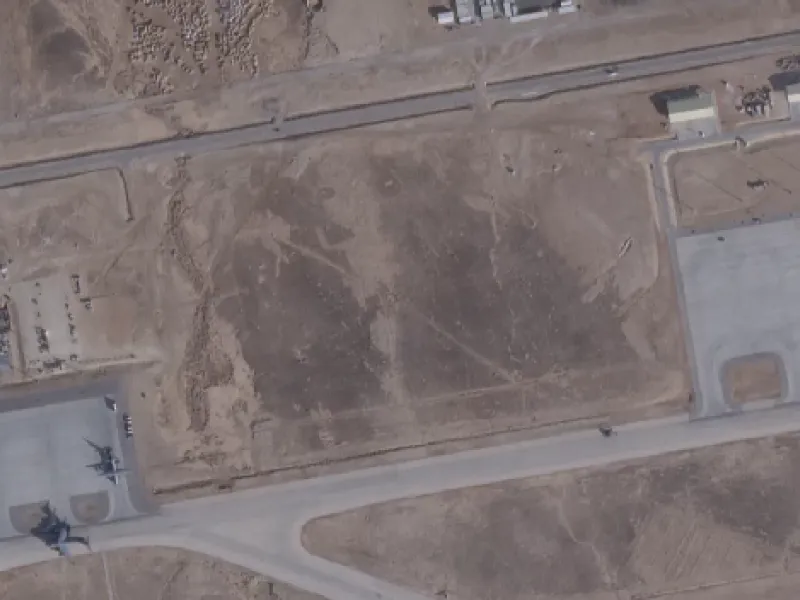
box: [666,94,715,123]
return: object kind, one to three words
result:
hangar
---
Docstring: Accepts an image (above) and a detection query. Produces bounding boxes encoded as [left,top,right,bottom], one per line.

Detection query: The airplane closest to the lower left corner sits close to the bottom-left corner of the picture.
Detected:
[36,502,85,560]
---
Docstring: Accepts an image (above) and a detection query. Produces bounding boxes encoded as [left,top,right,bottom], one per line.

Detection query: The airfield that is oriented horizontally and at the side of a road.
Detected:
[0,165,800,600]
